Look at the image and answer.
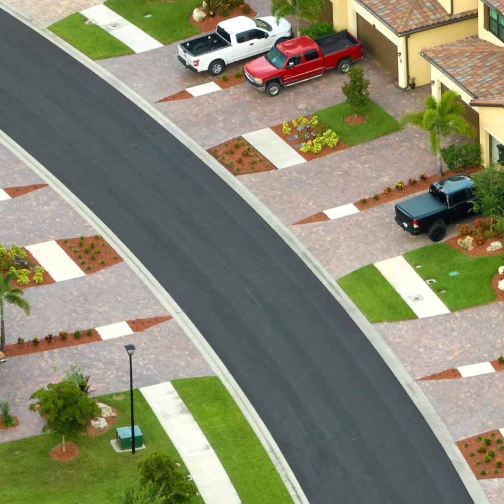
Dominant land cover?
paved ground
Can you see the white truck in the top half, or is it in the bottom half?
top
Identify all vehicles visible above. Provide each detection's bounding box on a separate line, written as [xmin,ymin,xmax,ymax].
[394,175,504,241]
[176,16,294,75]
[239,30,366,97]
